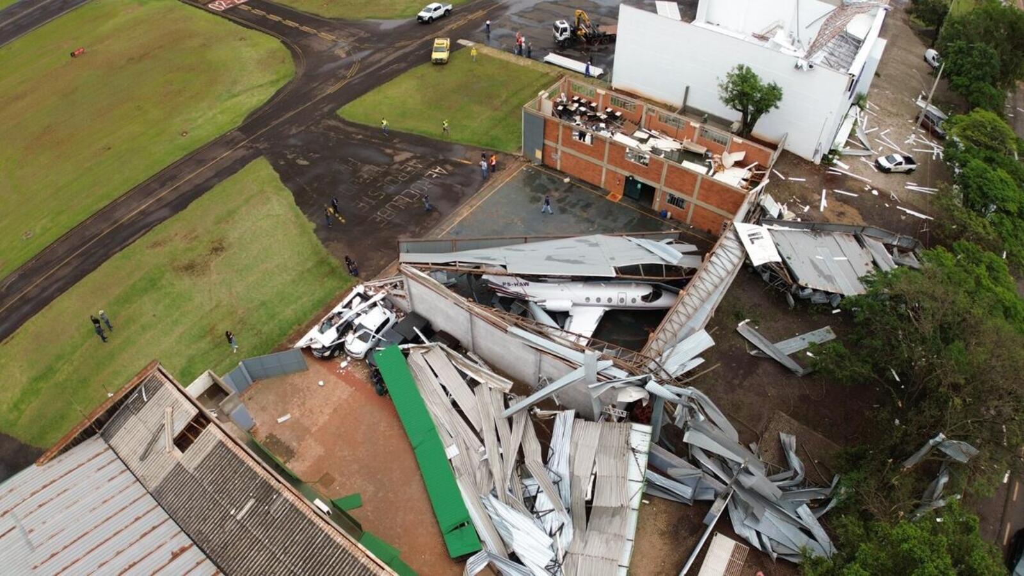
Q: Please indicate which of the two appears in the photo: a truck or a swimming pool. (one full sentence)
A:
Visible in the photo is a truck.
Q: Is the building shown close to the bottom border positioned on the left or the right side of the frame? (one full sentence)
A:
You can find the building shown close to the bottom border on the left side of the picture.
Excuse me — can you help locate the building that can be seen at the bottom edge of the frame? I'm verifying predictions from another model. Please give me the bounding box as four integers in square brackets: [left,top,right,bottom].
[0,358,405,576]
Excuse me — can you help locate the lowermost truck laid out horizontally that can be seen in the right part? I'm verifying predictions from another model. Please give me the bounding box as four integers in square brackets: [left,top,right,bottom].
[871,151,930,175]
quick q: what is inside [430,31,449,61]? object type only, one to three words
vehicle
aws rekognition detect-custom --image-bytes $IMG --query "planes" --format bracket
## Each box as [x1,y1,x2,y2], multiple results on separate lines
[531,303,558,334]
[471,269,678,356]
